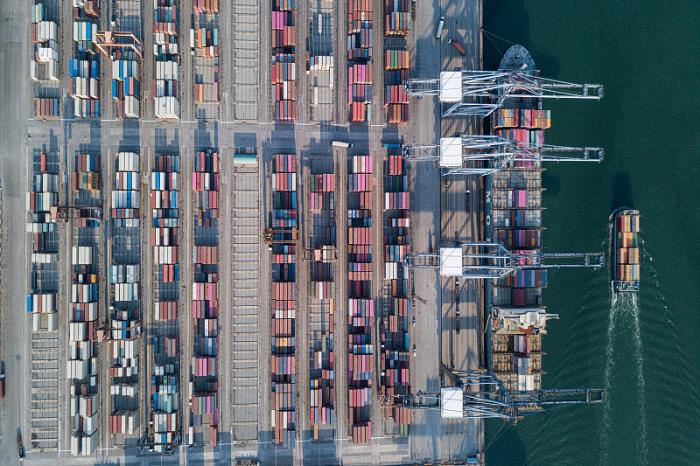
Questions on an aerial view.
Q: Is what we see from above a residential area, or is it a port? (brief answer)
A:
port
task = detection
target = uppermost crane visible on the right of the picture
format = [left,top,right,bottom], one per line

[405,67,599,127]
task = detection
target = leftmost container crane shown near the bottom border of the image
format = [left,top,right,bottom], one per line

[133,422,183,454]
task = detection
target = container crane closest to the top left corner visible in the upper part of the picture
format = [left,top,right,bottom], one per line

[92,32,144,63]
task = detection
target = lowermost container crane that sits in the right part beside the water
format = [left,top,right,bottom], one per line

[406,358,600,422]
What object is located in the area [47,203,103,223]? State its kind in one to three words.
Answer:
container crane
